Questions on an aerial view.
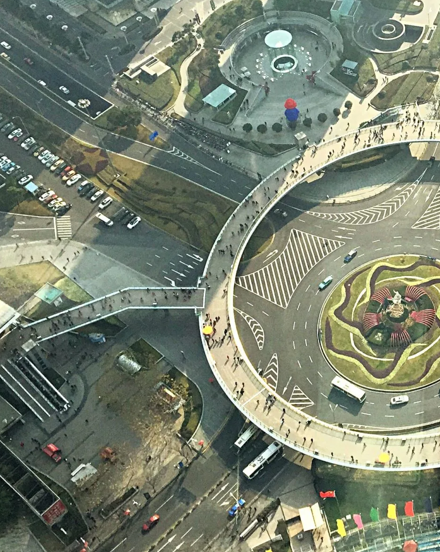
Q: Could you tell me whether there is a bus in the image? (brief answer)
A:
Yes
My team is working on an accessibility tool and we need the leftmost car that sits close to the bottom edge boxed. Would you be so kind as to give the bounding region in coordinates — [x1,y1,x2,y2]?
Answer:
[141,514,161,532]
